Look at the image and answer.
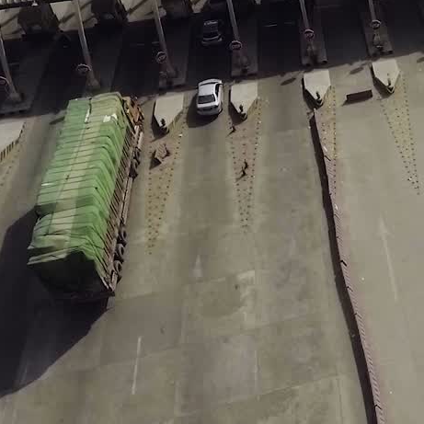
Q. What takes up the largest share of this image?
paved ground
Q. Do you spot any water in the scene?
No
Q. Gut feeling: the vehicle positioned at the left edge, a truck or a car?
truck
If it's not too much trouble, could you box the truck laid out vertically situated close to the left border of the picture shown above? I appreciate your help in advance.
[14,90,142,306]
